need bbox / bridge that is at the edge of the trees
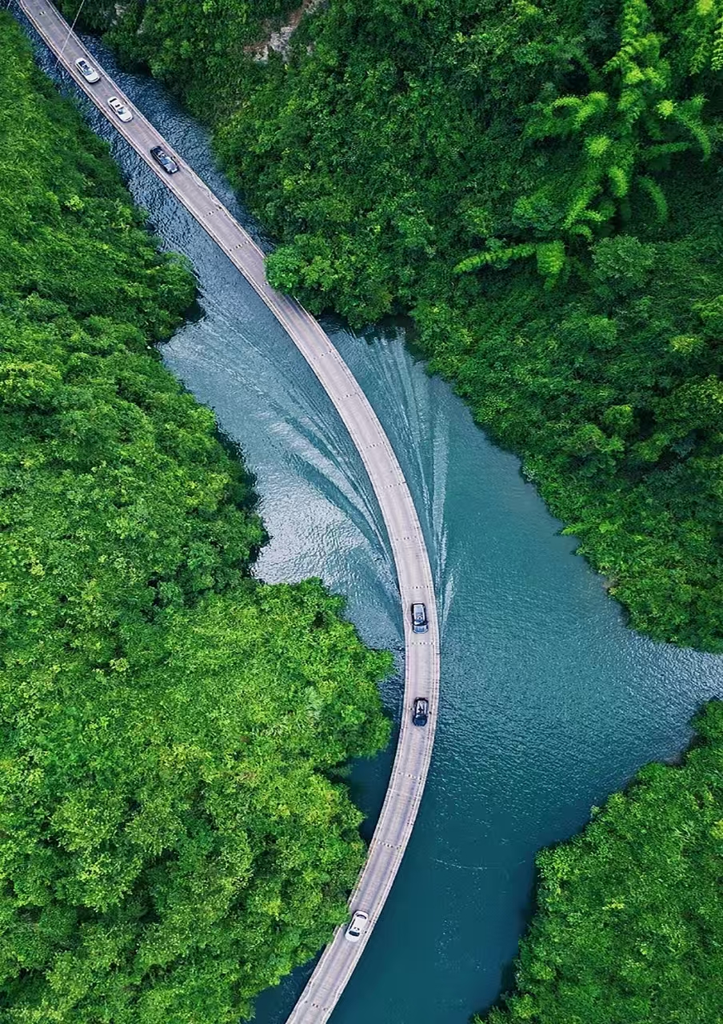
[15,0,439,1024]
